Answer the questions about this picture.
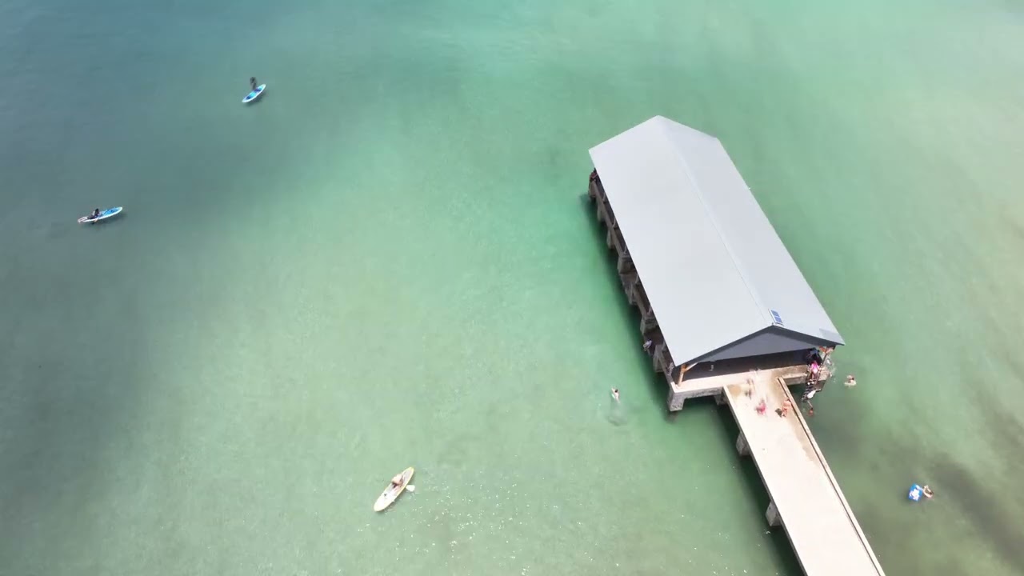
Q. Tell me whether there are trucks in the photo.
No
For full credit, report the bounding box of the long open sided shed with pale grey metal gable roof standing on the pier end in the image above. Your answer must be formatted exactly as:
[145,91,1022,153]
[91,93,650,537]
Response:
[590,115,844,387]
